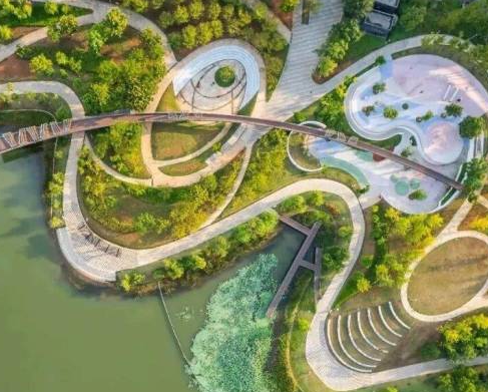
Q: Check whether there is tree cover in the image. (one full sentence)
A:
Yes, there's tree cover in this view.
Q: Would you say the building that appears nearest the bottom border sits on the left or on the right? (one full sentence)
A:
The building that appears nearest the bottom border appears in the right half of the scene.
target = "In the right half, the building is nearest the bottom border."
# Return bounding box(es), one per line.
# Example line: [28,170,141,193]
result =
[360,9,397,39]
